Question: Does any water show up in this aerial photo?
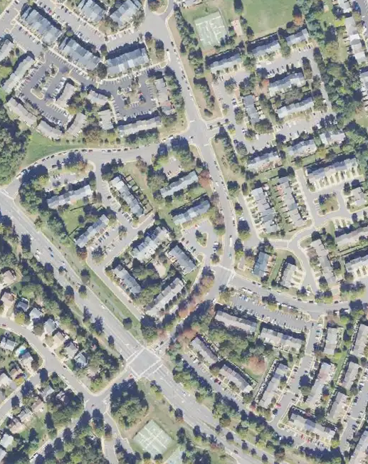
No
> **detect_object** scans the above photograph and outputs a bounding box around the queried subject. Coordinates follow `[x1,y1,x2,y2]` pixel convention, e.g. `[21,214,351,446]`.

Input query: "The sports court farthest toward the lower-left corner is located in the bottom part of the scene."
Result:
[133,421,176,464]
